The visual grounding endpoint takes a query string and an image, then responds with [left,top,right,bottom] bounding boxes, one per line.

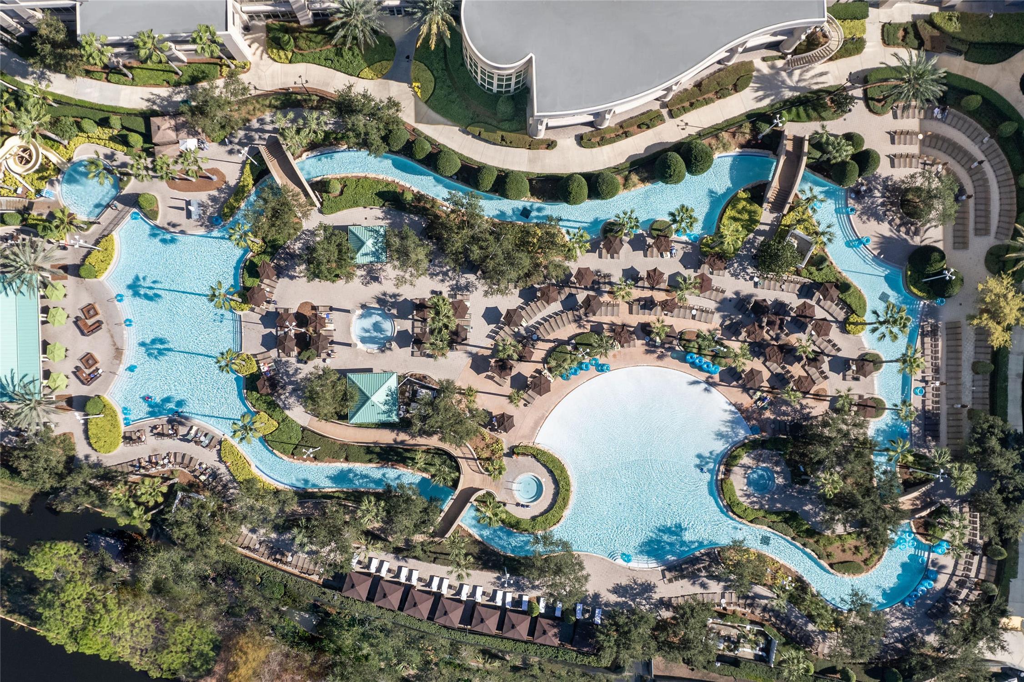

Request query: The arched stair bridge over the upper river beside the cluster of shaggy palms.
[258,133,321,216]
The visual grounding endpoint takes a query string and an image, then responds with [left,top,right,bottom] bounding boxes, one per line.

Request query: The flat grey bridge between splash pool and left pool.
[93,191,138,237]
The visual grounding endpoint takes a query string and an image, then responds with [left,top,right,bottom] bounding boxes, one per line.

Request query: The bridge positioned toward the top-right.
[764,129,810,212]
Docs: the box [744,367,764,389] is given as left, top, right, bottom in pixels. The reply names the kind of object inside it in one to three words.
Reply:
umbrella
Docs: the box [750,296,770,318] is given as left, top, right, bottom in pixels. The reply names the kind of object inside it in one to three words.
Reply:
umbrella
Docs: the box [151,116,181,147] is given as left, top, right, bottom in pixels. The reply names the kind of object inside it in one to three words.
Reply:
tent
